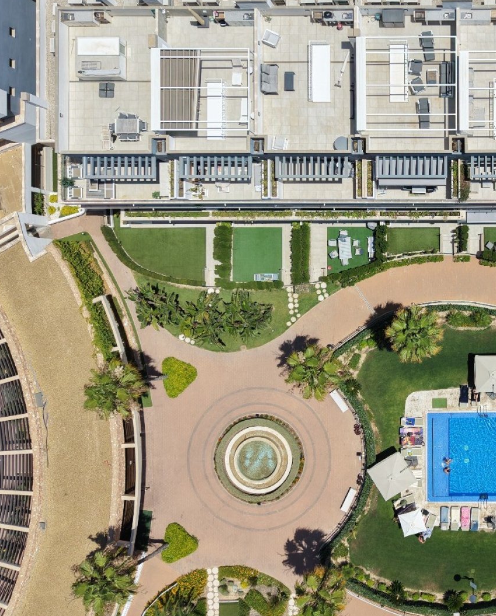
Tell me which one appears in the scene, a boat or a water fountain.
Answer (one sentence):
It is a water fountain that can be seen here.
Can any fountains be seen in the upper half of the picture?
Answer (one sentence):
No, there is no fountain in the upper half of the picture.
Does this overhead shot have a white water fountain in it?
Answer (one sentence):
Yes, the photo shows a white water fountain.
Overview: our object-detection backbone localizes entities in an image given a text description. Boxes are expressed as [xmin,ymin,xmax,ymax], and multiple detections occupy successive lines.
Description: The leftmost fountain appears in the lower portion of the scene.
[226,422,297,493]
